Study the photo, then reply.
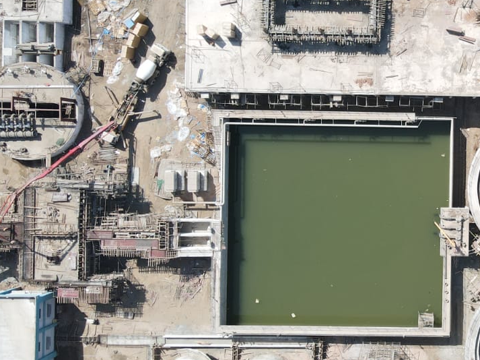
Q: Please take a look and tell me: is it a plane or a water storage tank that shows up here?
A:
water storage tank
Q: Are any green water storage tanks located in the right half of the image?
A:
Yes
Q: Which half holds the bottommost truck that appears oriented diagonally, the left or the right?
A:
left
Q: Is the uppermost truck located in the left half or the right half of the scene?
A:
left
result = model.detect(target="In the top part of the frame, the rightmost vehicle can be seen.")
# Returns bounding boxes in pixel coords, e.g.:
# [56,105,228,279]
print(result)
[127,38,167,88]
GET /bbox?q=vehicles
[127,38,167,88]
[0,84,162,242]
